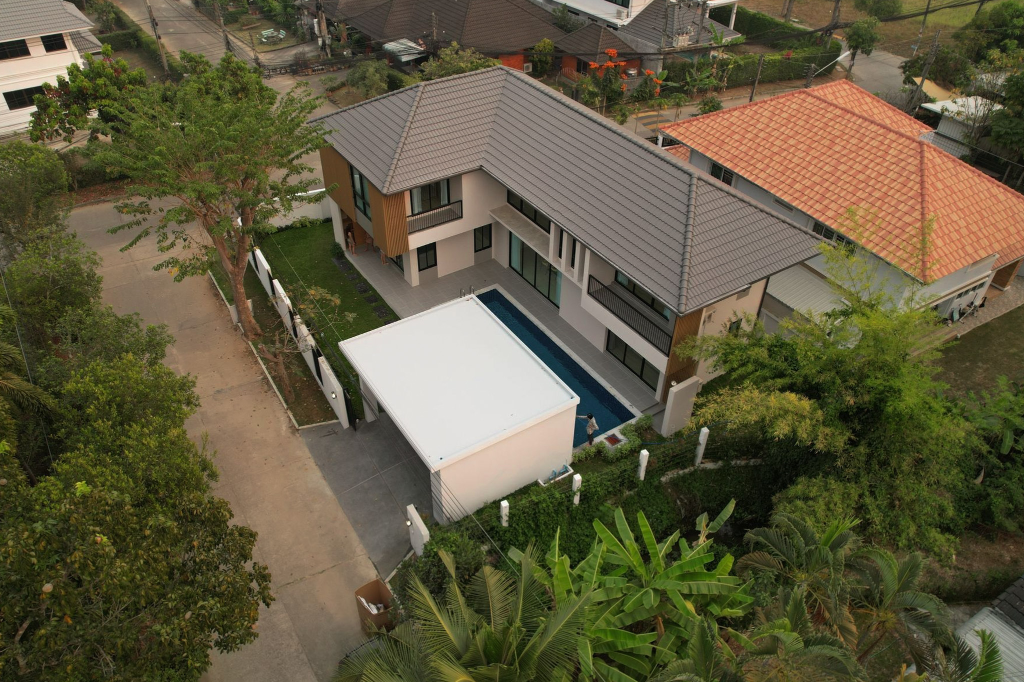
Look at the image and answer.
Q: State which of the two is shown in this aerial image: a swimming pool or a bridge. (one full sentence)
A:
The one in the frame is a swimming pool.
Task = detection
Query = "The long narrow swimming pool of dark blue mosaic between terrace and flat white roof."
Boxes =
[419,283,648,456]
